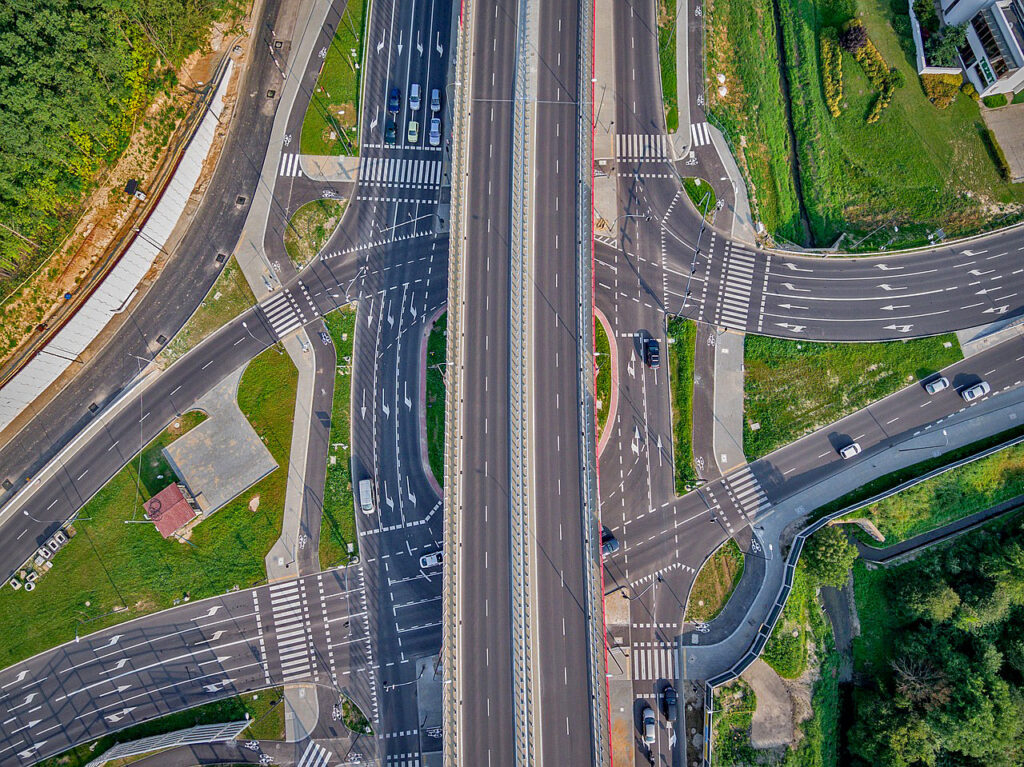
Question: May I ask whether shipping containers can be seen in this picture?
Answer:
No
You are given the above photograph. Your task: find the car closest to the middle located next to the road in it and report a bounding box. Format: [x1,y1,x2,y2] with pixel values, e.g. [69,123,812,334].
[644,339,659,367]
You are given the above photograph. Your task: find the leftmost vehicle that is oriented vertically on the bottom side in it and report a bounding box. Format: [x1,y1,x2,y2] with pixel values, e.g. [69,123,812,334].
[358,479,375,515]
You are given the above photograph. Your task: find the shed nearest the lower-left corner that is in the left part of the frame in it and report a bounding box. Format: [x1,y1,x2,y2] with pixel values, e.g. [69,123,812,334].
[142,480,209,538]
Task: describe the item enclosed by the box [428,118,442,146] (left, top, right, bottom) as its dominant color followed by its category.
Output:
blue car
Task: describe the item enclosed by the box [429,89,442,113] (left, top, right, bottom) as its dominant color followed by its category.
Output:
blue vehicle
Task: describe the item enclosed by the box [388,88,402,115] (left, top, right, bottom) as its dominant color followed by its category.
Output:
blue car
